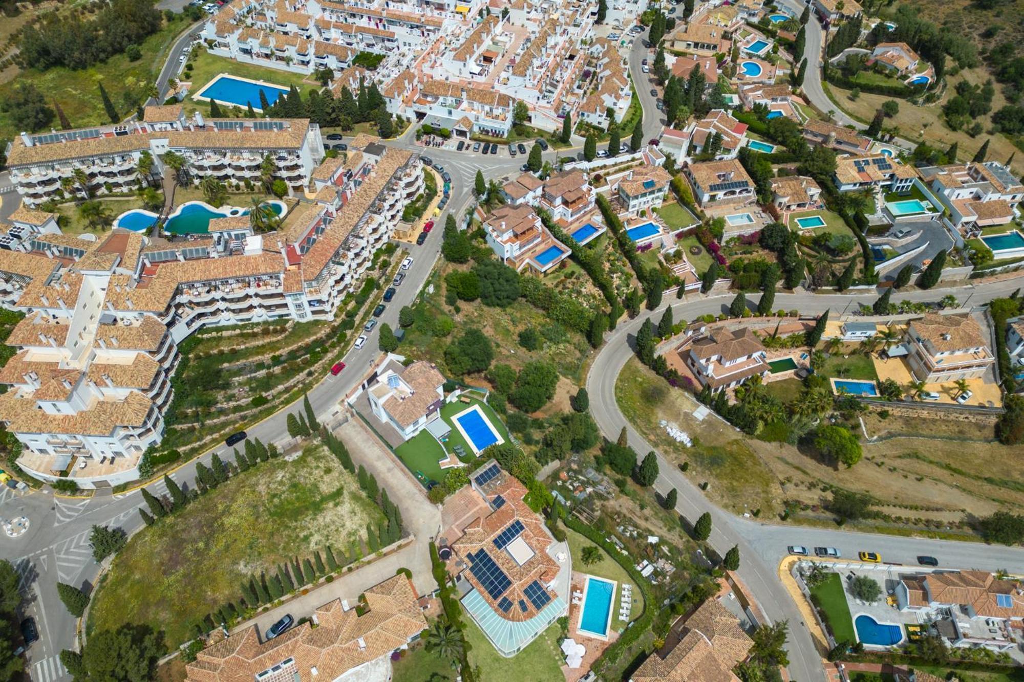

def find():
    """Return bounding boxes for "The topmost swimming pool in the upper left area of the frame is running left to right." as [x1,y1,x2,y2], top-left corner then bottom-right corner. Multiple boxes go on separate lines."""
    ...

[193,74,295,112]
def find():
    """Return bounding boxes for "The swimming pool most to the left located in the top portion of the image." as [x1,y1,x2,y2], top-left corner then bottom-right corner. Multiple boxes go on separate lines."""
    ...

[112,209,157,234]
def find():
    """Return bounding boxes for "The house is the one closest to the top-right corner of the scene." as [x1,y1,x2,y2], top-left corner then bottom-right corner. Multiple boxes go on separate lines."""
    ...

[866,40,924,80]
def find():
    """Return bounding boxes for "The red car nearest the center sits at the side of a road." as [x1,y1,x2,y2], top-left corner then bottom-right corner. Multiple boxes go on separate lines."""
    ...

[421,220,436,232]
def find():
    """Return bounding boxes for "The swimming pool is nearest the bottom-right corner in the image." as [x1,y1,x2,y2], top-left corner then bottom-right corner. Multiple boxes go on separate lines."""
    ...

[849,610,909,651]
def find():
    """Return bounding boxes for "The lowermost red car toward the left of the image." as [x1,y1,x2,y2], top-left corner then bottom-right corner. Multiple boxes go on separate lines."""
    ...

[329,362,347,375]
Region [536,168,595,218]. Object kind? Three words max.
house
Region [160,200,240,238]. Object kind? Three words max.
swimming pool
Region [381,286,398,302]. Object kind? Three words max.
car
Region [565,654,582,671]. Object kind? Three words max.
umbrella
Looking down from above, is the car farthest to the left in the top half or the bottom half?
bottom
